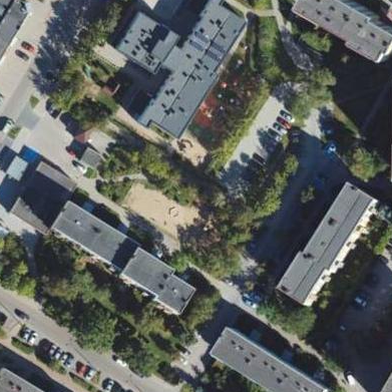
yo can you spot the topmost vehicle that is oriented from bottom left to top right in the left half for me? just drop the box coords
[1,119,16,136]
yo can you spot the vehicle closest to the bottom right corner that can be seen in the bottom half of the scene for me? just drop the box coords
[343,371,357,388]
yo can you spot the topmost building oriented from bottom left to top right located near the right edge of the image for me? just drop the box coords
[277,182,382,306]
